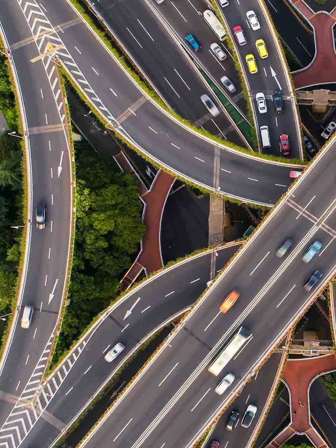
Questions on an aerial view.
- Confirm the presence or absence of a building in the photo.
No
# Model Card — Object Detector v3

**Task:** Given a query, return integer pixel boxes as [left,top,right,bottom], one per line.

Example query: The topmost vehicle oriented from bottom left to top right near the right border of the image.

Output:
[322,120,336,138]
